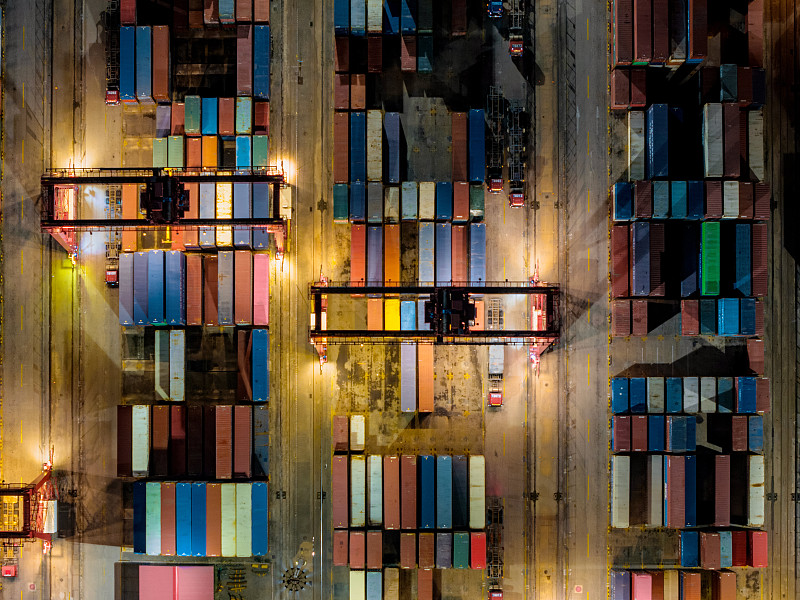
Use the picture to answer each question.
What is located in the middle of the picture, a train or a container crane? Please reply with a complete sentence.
Looking in the middle of the picture, you will find a container crane.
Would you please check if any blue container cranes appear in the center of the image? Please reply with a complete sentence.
No, looking in the center of the image, there is no blue container crane.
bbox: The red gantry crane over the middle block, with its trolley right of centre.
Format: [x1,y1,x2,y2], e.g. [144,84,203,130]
[309,257,566,374]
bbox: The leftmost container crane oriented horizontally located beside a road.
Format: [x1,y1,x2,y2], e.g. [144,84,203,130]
[36,154,294,271]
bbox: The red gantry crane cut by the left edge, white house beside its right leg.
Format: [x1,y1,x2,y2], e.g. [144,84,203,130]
[0,445,61,562]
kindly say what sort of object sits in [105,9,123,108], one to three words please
vehicle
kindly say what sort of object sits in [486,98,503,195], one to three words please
vehicle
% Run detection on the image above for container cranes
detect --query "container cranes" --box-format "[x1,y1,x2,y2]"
[36,154,294,271]
[0,445,61,562]
[309,257,566,374]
